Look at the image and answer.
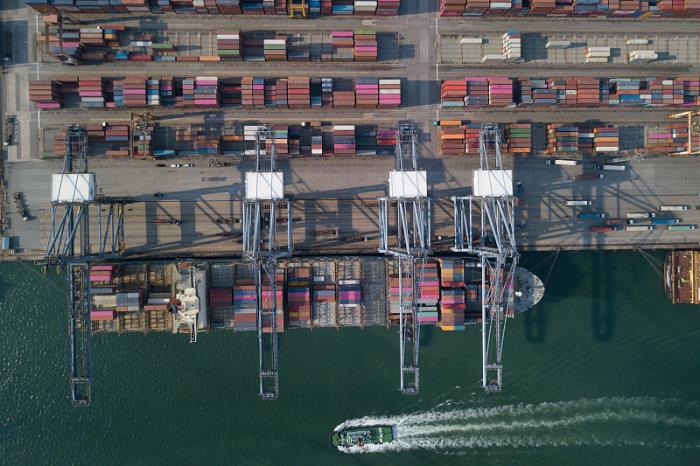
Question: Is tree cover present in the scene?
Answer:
No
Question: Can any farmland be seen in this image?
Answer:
No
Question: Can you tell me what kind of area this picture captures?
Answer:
port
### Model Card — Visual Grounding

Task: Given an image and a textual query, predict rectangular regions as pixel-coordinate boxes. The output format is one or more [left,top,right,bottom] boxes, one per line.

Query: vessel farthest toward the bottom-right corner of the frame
[658,252,700,303]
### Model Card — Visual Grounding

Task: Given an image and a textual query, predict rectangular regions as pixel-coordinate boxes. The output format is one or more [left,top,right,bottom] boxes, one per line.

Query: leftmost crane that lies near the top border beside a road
[44,8,81,68]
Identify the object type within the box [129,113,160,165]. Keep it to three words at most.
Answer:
crane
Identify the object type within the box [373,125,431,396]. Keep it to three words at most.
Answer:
container crane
